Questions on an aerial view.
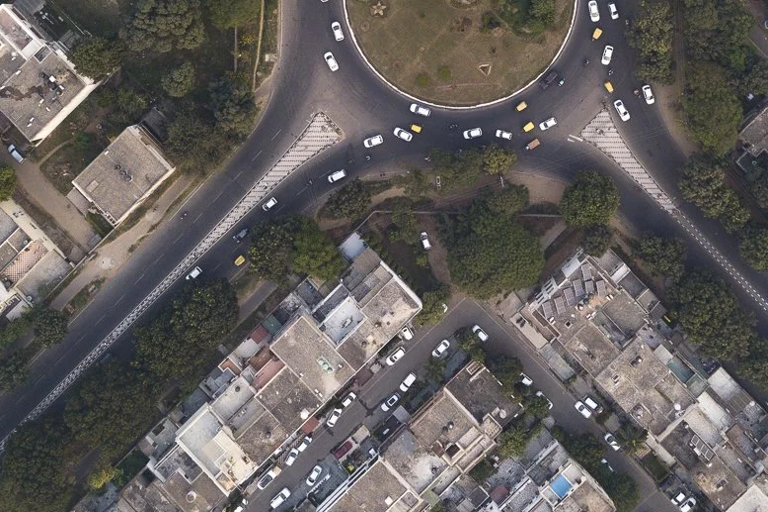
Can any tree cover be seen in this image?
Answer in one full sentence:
Yes, the picture does contain tree cover.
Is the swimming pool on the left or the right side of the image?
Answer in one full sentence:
You can find the swimming pool on the right side of the picture.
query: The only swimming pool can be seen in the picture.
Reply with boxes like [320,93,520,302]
[549,473,573,497]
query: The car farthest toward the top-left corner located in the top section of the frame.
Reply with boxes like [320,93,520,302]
[7,144,24,163]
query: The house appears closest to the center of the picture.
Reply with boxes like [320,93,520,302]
[313,231,423,370]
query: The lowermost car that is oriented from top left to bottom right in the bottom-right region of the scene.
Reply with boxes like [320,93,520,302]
[603,430,621,452]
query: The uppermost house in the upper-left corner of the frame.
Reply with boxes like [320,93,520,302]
[0,0,97,143]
